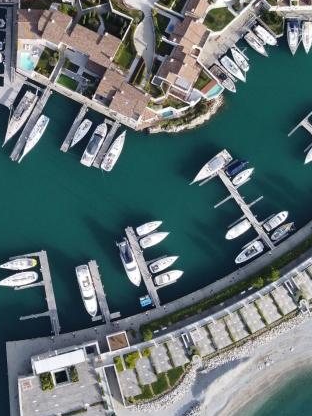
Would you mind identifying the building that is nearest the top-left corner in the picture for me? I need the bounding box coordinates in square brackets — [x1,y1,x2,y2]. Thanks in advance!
[16,8,46,43]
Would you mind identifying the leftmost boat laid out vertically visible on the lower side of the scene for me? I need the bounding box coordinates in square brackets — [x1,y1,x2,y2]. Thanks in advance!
[76,262,97,318]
